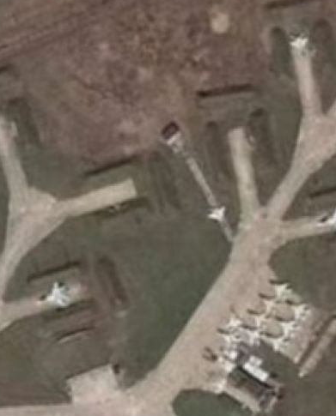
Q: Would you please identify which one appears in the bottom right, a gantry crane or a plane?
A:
plane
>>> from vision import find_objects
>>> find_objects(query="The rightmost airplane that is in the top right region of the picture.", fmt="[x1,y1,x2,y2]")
[290,31,307,58]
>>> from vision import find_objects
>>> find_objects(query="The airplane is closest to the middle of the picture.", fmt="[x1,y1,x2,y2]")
[207,202,224,227]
